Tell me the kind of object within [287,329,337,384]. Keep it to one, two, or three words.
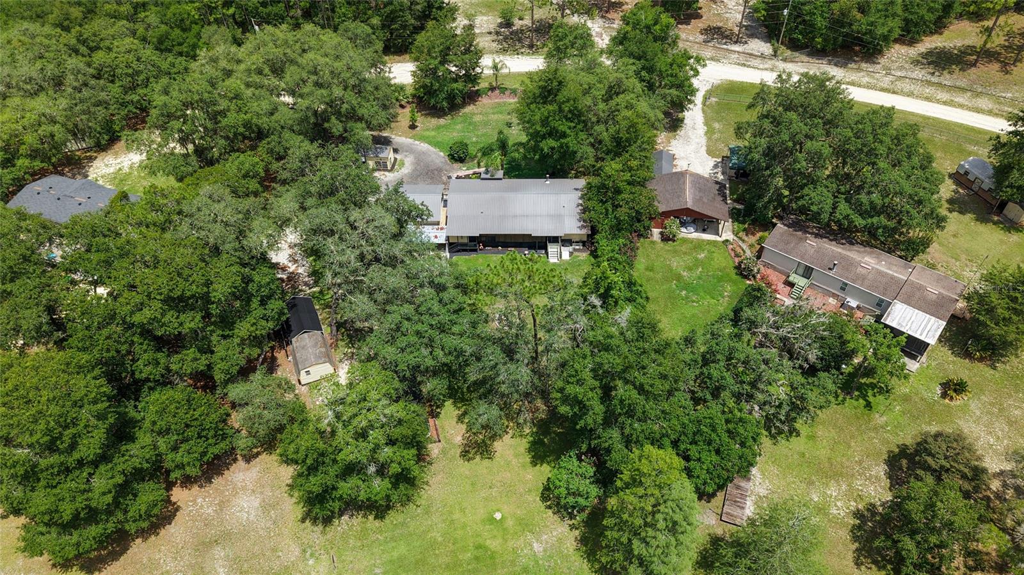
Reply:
shed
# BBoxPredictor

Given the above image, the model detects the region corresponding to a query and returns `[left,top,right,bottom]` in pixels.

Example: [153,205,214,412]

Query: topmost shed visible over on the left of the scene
[366,143,396,171]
